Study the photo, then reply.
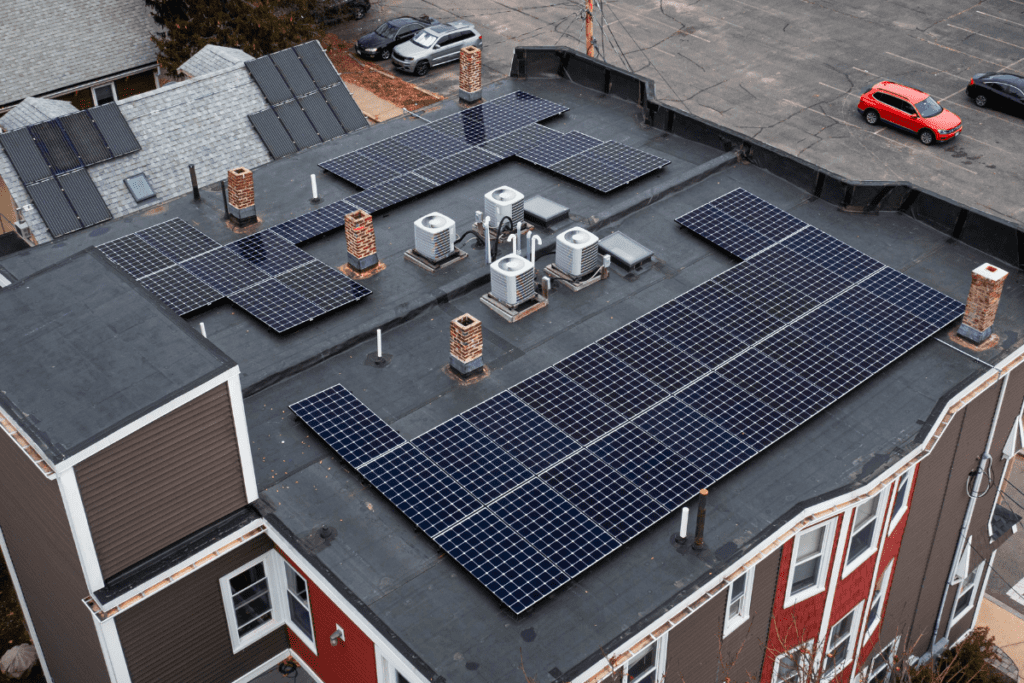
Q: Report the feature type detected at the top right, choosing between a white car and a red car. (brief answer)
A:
red car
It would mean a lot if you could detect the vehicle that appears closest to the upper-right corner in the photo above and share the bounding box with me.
[966,69,1024,111]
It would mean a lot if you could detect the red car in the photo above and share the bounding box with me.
[860,81,967,145]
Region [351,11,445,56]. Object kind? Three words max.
car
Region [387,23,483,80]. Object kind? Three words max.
car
